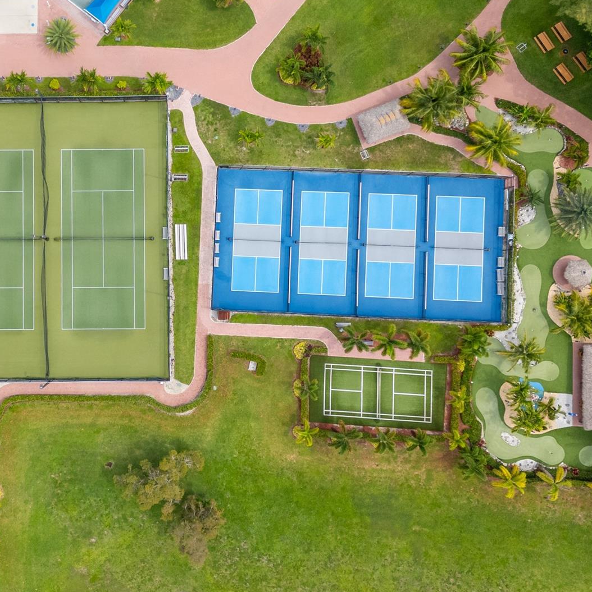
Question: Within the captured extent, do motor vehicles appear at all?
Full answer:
No, there is no motor vehicle in the image.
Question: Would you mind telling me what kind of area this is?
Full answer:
What you see here is a sports ground.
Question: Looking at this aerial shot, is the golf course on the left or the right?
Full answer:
The golf course is on the right side of the image.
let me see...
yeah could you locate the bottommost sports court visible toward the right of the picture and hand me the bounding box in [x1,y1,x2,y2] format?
[324,364,434,423]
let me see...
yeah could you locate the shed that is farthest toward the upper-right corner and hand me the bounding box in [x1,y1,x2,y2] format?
[356,99,410,146]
